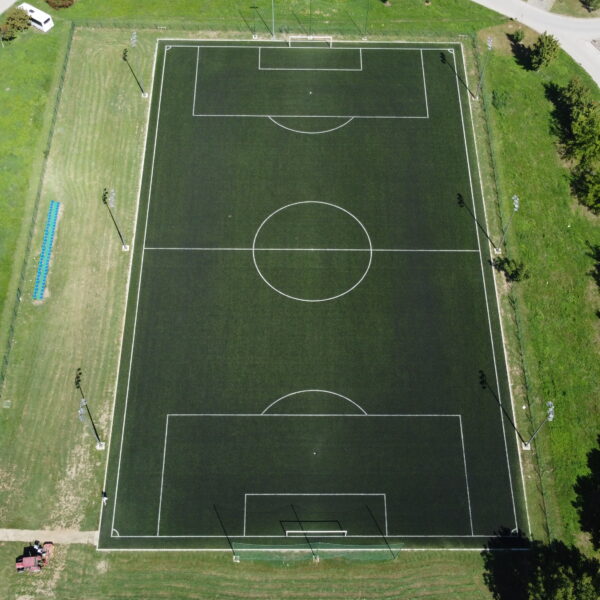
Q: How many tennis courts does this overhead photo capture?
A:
zero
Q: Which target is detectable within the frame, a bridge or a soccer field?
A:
soccer field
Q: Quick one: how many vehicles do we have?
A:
2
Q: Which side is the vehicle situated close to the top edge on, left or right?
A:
left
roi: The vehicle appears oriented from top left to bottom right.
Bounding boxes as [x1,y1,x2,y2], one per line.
[18,5,56,32]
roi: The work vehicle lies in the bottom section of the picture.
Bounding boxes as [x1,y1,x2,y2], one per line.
[14,543,54,574]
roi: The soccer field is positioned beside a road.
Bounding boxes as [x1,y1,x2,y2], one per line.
[96,39,534,551]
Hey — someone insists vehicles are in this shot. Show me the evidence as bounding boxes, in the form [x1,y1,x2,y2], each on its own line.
[14,543,54,574]
[18,5,56,32]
